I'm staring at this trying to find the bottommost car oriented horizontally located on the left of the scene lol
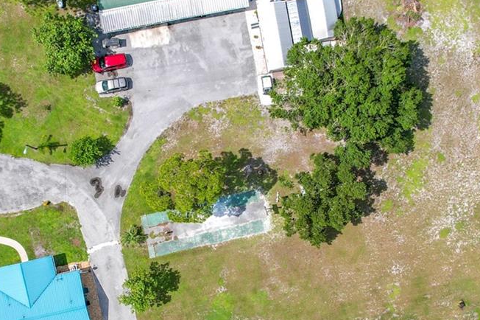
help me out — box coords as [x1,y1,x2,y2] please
[94,77,129,96]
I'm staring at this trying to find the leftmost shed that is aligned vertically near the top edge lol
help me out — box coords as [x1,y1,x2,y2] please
[256,1,296,74]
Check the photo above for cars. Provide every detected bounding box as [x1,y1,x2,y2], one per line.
[94,77,129,96]
[92,54,129,74]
